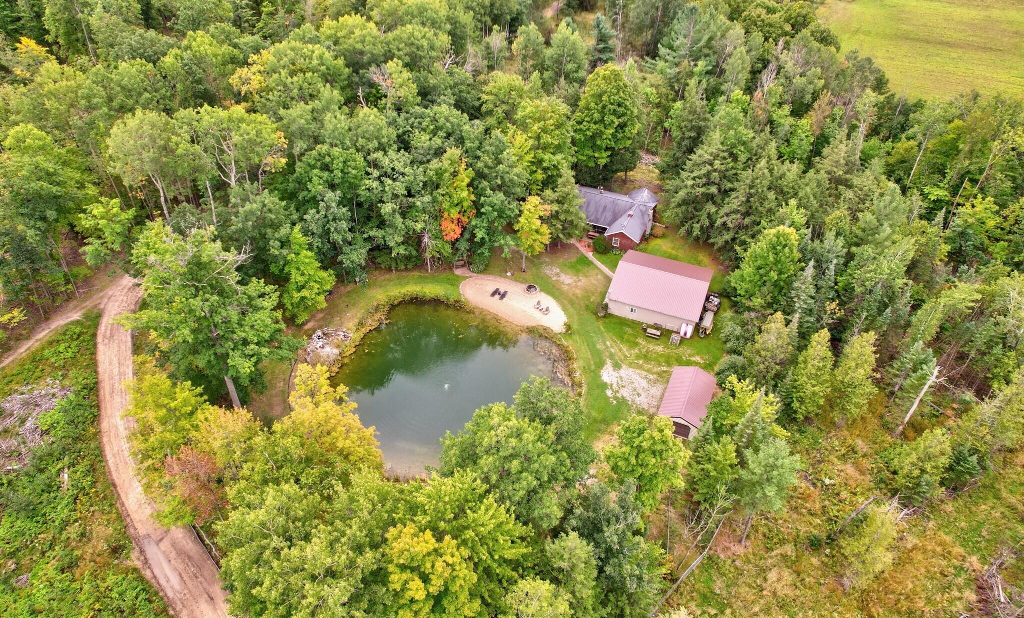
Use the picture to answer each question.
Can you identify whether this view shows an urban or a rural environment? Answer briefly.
rural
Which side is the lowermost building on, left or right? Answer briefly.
right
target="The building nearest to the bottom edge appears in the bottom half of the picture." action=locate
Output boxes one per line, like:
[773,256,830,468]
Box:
[656,366,715,441]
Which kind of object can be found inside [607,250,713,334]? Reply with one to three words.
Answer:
barn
